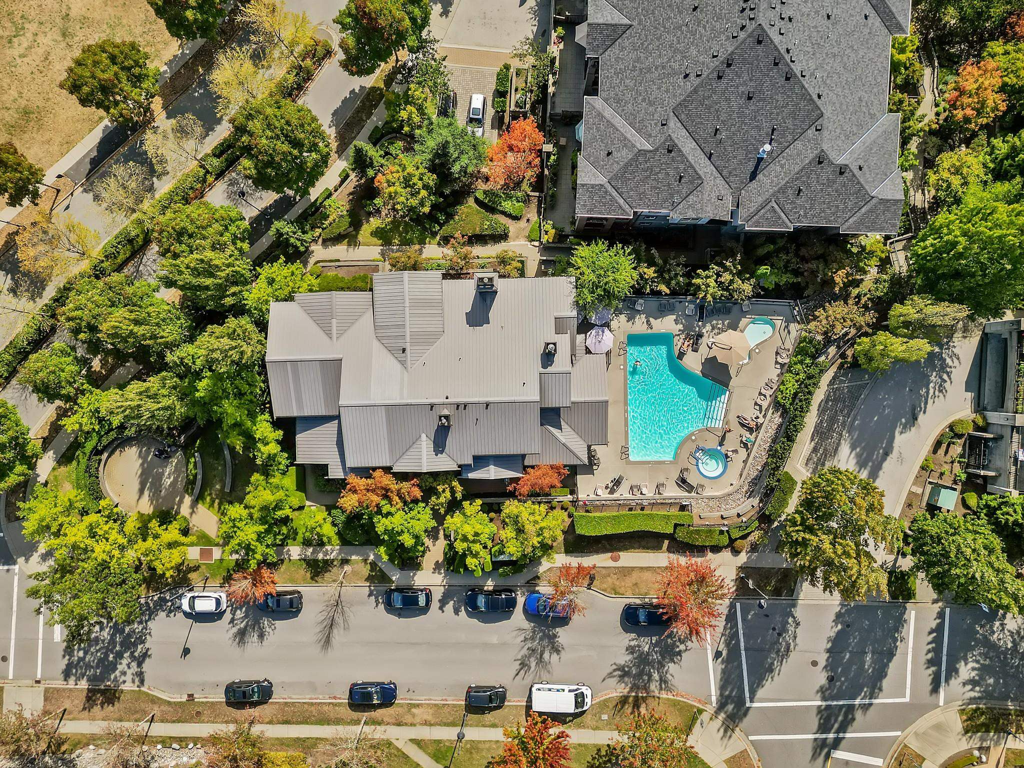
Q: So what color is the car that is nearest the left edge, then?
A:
white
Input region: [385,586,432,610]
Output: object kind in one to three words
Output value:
car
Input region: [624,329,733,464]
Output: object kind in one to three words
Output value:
swimming pool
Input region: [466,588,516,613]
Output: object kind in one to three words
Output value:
car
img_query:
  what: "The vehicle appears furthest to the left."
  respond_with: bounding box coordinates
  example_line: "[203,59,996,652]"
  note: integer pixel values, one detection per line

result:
[182,591,229,615]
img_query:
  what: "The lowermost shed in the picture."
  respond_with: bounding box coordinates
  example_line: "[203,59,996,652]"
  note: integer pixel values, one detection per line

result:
[917,477,961,510]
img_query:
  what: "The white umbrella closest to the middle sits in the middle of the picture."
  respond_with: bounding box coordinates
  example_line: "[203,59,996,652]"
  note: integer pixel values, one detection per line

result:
[585,327,613,354]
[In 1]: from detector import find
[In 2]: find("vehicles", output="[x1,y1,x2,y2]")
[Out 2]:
[349,680,398,707]
[225,679,274,705]
[182,591,229,615]
[466,588,516,613]
[525,593,570,618]
[530,683,590,715]
[257,589,305,613]
[620,601,676,628]
[466,683,506,708]
[385,586,432,610]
